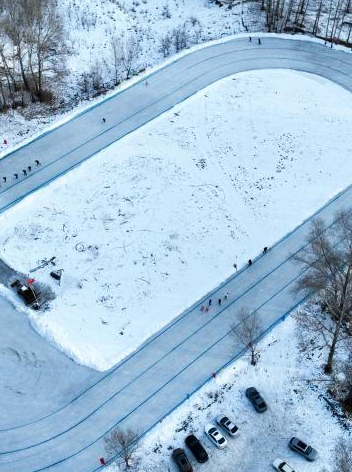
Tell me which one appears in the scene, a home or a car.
car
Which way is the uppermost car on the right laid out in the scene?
on a diagonal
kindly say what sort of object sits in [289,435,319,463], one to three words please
car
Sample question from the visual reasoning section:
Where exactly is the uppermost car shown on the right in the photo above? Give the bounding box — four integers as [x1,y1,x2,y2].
[245,387,270,414]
